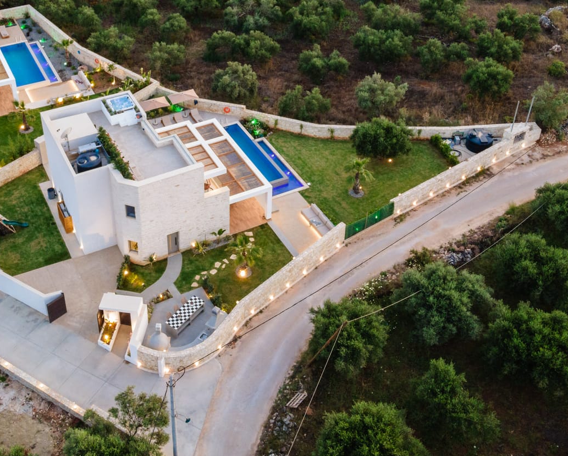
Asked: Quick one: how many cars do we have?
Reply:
none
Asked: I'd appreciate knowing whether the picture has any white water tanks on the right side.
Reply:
No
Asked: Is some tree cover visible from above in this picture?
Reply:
Yes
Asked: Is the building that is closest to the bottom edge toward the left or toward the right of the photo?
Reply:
left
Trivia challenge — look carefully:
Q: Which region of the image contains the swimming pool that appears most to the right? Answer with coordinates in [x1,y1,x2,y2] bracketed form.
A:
[255,136,308,199]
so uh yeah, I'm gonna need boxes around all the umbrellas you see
[139,96,171,127]
[168,87,200,104]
